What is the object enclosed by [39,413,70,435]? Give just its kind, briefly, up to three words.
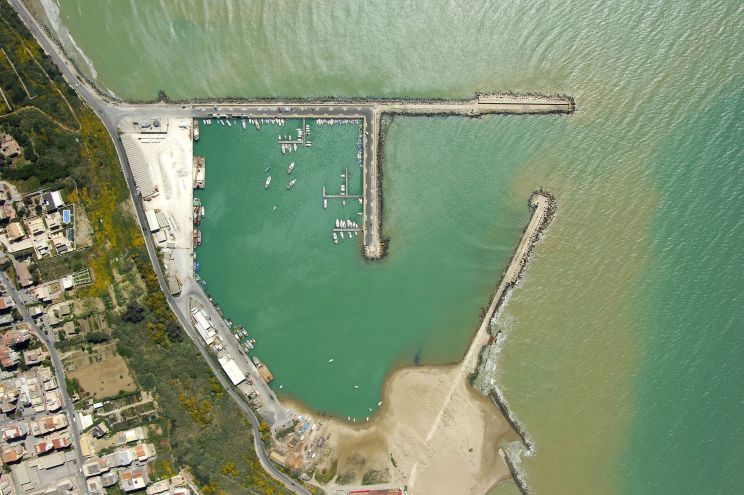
house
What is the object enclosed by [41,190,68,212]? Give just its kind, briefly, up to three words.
house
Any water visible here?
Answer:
Yes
